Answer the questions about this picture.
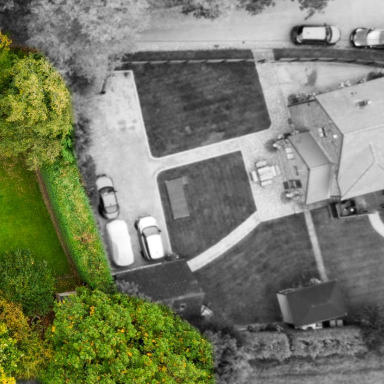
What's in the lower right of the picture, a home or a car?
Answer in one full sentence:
You can see a home in the lower right of the picture.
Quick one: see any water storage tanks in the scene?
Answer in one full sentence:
No, the scene contains no water storage tank.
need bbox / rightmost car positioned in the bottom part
[135,214,166,262]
